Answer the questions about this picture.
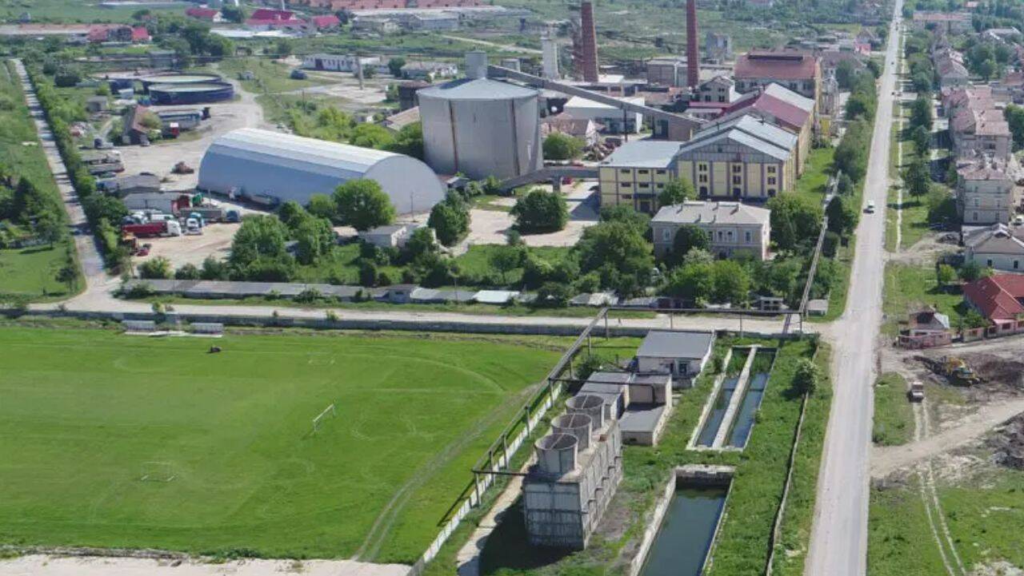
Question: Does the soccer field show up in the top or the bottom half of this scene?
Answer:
bottom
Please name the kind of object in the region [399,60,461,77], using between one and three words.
house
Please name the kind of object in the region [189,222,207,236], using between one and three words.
vehicle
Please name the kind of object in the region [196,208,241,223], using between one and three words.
vehicle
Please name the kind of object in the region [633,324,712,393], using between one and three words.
building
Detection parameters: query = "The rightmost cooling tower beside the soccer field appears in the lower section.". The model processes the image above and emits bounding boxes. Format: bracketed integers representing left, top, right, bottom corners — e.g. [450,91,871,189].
[520,397,623,556]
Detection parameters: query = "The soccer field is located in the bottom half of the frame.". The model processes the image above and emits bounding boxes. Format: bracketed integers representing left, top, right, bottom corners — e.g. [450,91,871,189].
[0,327,570,568]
